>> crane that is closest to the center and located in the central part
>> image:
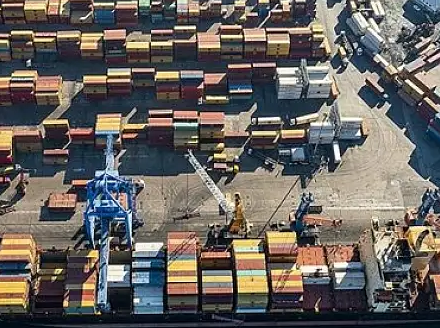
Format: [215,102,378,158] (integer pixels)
[173,147,259,241]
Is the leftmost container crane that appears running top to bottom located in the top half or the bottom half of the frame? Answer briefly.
bottom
